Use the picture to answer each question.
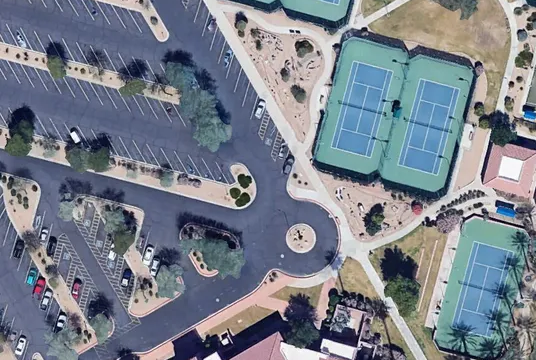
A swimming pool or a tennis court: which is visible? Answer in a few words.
tennis court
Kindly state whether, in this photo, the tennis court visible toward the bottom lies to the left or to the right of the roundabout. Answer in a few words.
on the right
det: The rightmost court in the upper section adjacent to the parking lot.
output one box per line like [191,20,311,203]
[380,53,478,198]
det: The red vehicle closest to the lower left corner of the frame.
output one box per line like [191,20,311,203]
[32,275,46,297]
